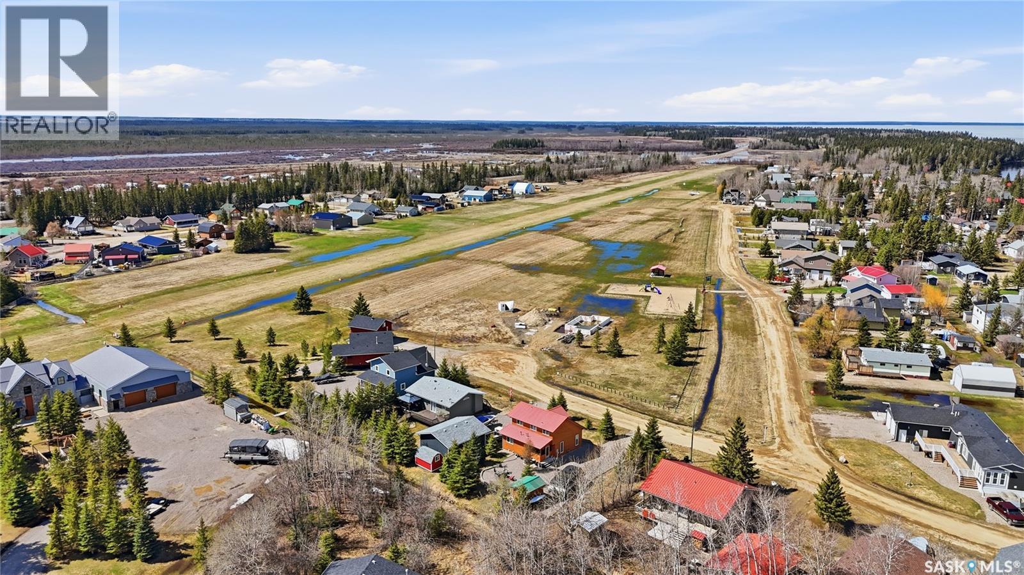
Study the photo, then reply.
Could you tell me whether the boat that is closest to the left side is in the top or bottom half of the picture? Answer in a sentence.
Seen from above, the boat that is closest to the left side lies in the bottom half of the view.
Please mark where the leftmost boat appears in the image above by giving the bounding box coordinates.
[213,442,273,465]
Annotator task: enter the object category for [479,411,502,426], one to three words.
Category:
boat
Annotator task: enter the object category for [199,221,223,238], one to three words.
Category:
barn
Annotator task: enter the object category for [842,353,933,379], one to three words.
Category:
house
